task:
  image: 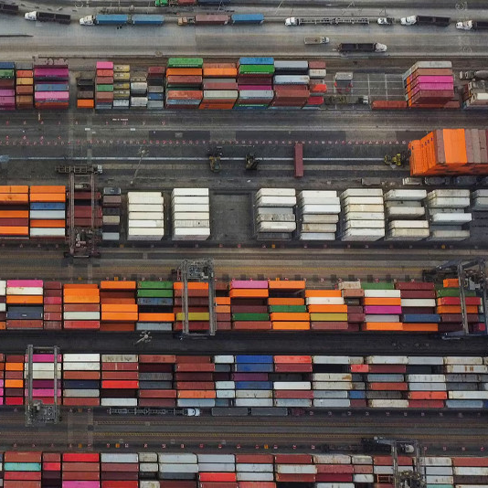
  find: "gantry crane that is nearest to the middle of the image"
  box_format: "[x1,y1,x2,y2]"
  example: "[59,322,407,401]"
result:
[171,257,217,340]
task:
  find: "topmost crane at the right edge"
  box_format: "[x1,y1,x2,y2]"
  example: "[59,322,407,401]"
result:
[425,258,488,339]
